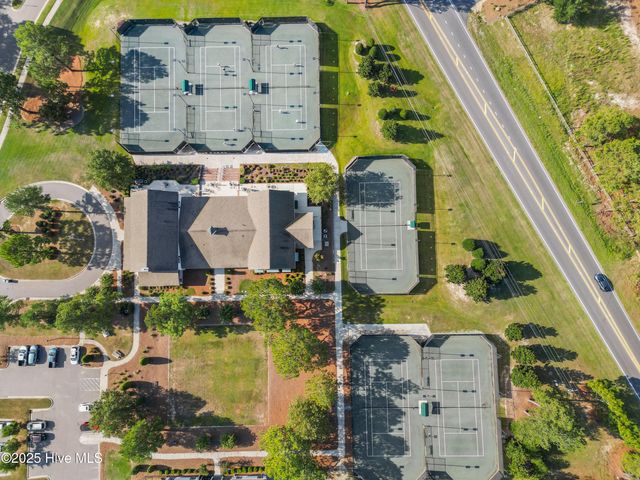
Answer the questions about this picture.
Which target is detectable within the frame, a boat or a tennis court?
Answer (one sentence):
Looking from above, you can make out a tennis court.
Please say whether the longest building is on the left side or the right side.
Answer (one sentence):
It is on the left.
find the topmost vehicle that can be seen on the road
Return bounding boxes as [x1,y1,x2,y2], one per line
[598,273,614,292]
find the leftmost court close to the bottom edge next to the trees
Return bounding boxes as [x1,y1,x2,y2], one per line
[351,338,426,480]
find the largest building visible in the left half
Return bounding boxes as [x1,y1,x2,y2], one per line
[124,189,313,286]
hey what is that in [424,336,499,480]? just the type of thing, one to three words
tennis court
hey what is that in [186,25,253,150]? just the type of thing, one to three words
tennis court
